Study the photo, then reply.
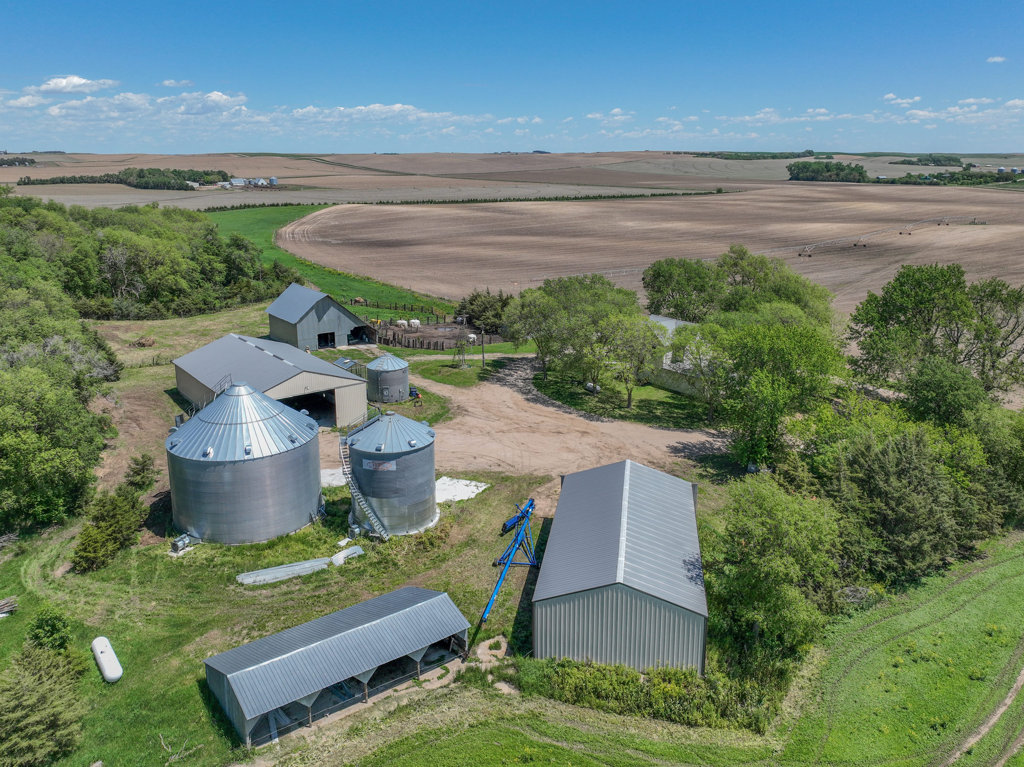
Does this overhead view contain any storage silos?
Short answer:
Yes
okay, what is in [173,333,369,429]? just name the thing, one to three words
shed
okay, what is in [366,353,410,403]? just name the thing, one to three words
silo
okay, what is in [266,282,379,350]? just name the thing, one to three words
barn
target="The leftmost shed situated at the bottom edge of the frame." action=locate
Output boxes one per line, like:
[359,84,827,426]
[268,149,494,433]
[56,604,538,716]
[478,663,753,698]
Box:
[205,585,472,745]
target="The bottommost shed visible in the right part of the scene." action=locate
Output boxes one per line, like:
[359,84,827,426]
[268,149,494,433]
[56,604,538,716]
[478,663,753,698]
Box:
[530,458,707,674]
